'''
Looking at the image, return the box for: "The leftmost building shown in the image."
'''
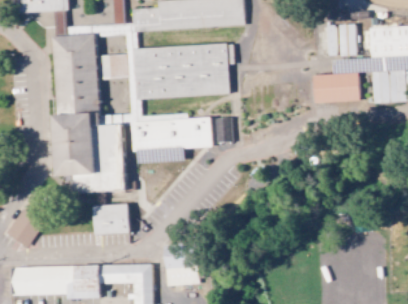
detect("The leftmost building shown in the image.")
[7,214,40,248]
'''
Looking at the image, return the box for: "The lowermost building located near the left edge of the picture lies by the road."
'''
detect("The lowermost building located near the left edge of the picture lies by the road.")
[11,265,100,299]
